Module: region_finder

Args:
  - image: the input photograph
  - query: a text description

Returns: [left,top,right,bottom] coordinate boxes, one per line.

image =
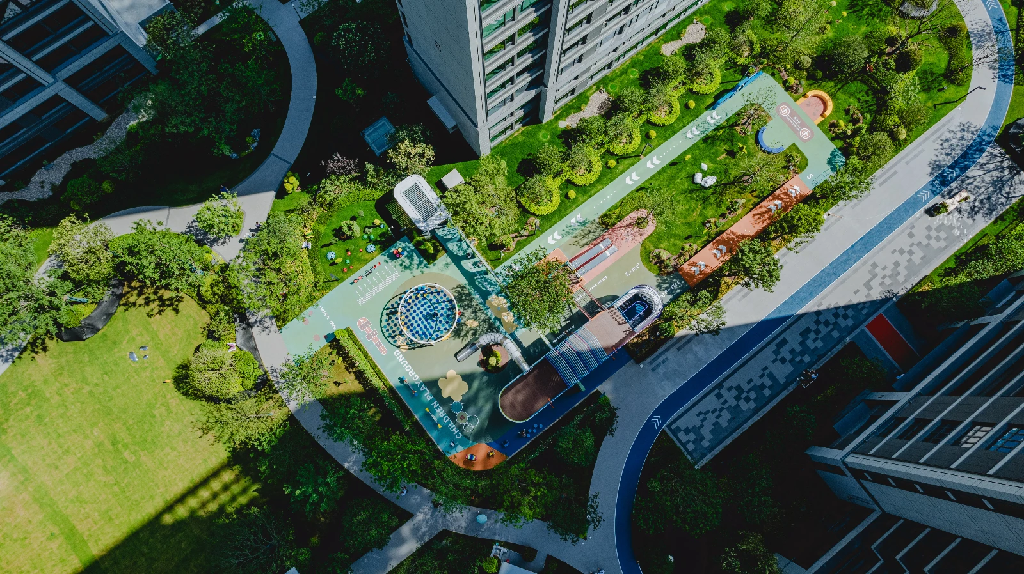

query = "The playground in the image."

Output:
[280,75,844,471]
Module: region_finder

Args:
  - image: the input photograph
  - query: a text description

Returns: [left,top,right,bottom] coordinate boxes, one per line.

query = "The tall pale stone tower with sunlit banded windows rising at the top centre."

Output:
[387,0,702,157]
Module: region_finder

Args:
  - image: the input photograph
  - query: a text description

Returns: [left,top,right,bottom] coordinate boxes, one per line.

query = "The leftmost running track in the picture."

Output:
[615,0,1014,570]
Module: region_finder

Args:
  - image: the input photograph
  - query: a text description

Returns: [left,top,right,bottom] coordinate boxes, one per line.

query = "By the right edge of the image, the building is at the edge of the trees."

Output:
[792,300,1024,574]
